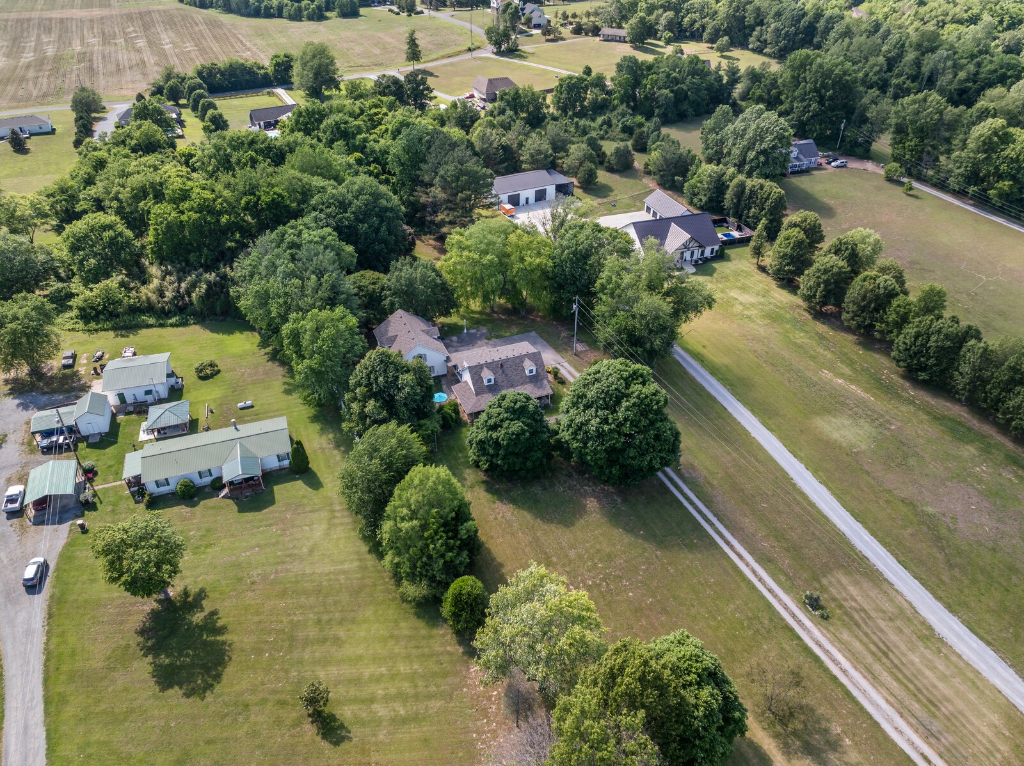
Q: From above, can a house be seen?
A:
Yes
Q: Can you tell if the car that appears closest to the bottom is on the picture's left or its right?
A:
left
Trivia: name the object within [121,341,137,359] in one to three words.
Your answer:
vehicle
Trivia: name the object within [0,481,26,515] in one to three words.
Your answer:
truck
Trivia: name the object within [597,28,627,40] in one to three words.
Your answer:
house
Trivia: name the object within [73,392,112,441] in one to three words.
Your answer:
shed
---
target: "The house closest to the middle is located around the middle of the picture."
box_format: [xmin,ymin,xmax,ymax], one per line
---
[444,342,557,426]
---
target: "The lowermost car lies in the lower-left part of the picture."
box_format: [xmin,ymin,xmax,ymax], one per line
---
[16,556,45,591]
